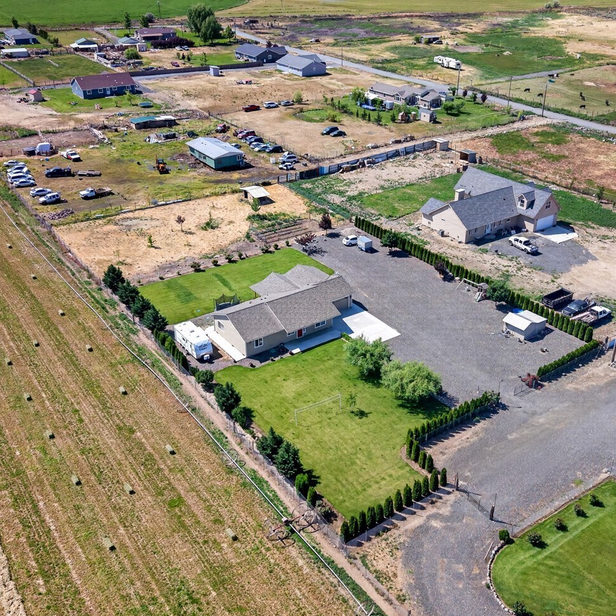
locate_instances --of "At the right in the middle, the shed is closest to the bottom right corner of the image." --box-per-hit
[504,309,551,339]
